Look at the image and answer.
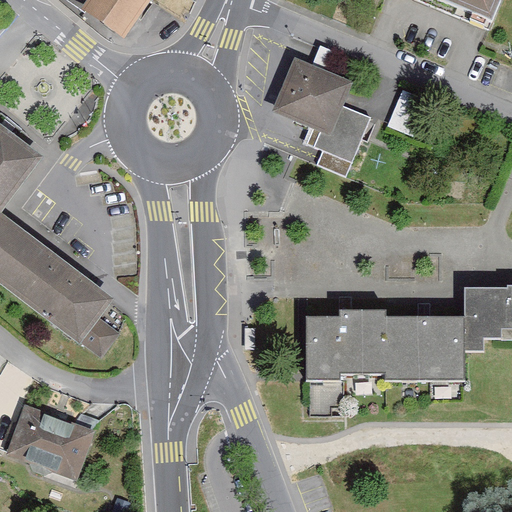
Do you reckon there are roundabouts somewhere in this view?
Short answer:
Yes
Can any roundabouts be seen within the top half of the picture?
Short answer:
Yes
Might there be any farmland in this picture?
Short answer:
No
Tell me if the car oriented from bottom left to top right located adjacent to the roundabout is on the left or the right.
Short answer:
left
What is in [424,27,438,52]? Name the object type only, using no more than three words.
vehicle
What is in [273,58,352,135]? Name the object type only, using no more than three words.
house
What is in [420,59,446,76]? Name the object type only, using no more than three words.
car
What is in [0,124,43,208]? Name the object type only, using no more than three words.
building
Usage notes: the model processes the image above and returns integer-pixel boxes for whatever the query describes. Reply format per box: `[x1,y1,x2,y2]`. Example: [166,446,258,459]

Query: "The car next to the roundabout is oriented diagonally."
[158,20,182,40]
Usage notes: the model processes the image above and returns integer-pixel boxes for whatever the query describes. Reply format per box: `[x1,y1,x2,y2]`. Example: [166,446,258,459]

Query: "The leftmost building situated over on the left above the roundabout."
[82,0,152,38]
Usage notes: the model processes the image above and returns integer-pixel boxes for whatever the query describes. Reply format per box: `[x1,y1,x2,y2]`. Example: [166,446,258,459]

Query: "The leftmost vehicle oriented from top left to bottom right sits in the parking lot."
[70,238,92,258]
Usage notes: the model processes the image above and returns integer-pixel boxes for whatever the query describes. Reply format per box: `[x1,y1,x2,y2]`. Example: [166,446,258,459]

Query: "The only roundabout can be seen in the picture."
[103,50,241,187]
